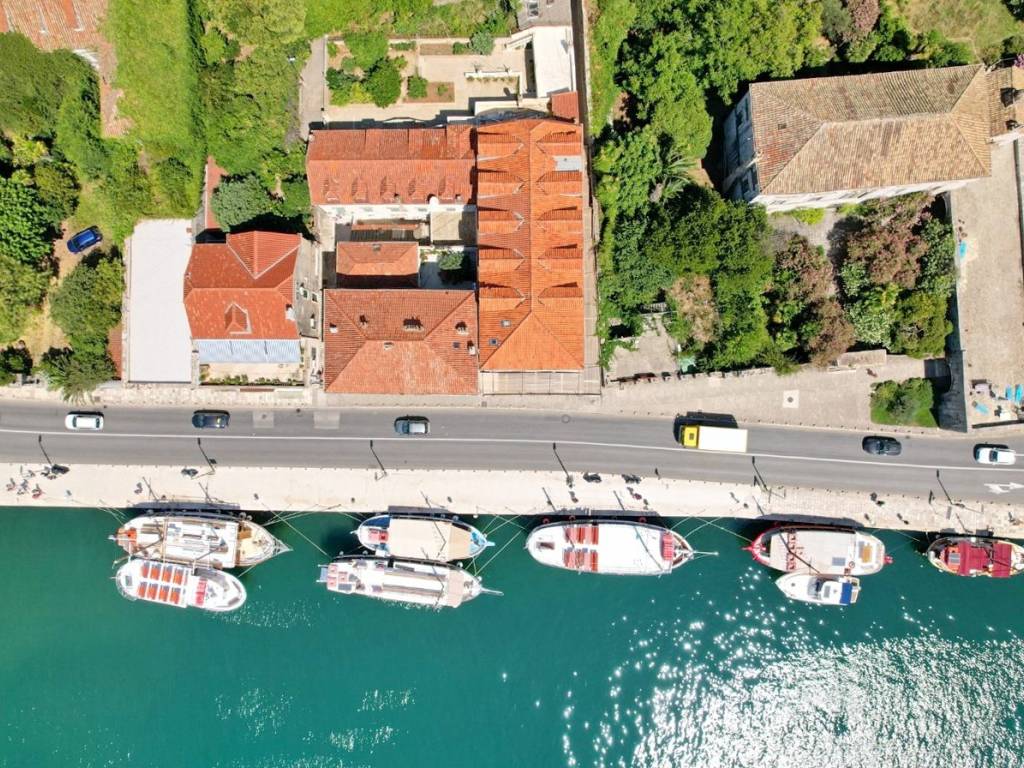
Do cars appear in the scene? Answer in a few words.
Yes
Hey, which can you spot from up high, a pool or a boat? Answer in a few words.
boat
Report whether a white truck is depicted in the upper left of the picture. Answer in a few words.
No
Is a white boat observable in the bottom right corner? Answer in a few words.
Yes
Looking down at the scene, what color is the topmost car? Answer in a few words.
blue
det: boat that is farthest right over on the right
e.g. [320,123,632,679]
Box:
[921,530,1024,577]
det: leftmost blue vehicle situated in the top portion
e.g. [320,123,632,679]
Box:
[68,228,106,253]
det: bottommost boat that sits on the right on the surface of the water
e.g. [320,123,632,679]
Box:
[774,572,862,606]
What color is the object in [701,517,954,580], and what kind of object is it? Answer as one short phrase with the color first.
white boat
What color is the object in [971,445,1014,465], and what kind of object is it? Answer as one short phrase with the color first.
white car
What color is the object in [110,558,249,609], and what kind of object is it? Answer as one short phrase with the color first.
white boat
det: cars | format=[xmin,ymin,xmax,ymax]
[194,410,232,429]
[859,436,900,455]
[69,411,108,431]
[68,228,106,253]
[395,417,430,436]
[971,445,1014,465]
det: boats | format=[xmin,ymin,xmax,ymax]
[921,530,1024,577]
[110,558,249,609]
[774,572,862,606]
[101,504,342,573]
[339,508,568,561]
[701,517,954,580]
[289,512,523,607]
[478,508,722,575]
